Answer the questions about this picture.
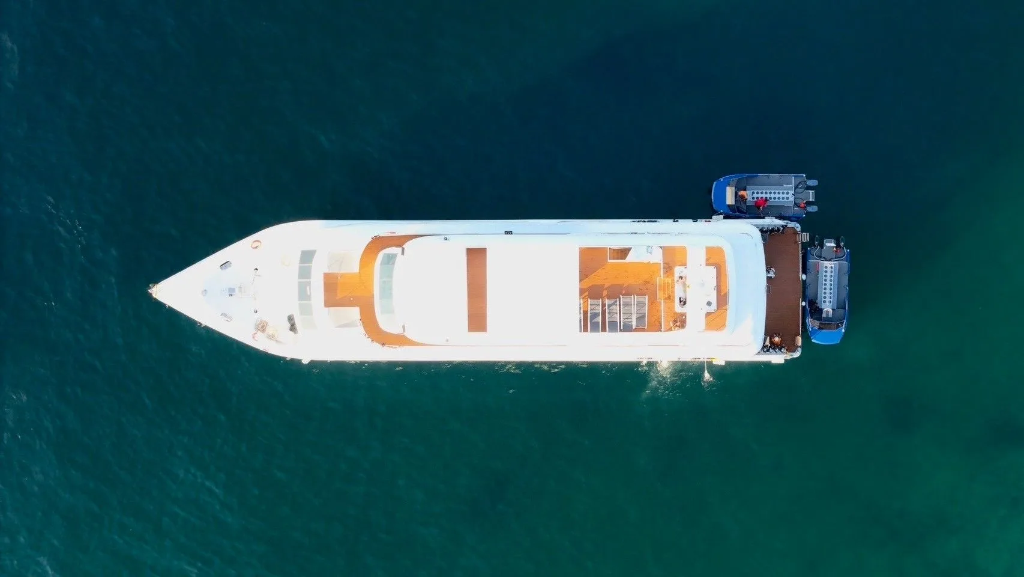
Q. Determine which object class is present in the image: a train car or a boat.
boat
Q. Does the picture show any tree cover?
No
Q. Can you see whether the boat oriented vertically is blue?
Yes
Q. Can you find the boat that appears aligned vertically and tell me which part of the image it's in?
right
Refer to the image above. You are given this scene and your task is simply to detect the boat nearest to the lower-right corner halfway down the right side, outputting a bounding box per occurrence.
[804,237,850,344]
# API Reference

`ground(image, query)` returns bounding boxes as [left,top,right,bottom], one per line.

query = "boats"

[147,216,809,364]
[804,237,850,344]
[711,174,820,217]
